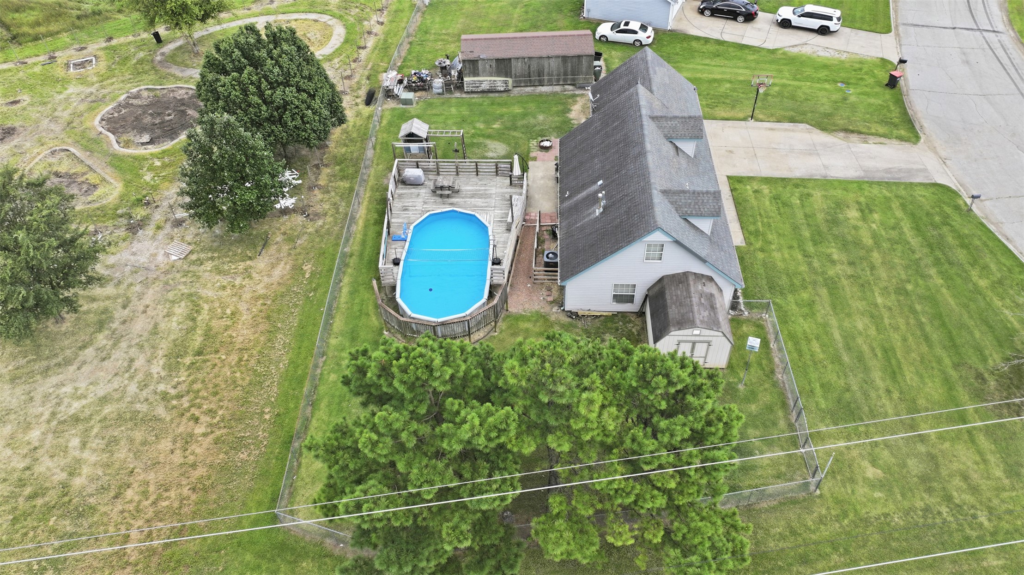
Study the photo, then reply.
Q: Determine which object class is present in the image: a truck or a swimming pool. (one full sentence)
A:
It is a swimming pool that can be seen here.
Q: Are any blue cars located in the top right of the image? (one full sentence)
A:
No, in the top right of the image there is no blue car.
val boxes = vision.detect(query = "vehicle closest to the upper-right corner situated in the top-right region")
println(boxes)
[774,2,843,34]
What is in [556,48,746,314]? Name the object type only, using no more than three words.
house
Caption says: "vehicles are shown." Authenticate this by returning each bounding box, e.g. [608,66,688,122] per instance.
[774,2,843,34]
[697,0,760,22]
[594,19,654,45]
